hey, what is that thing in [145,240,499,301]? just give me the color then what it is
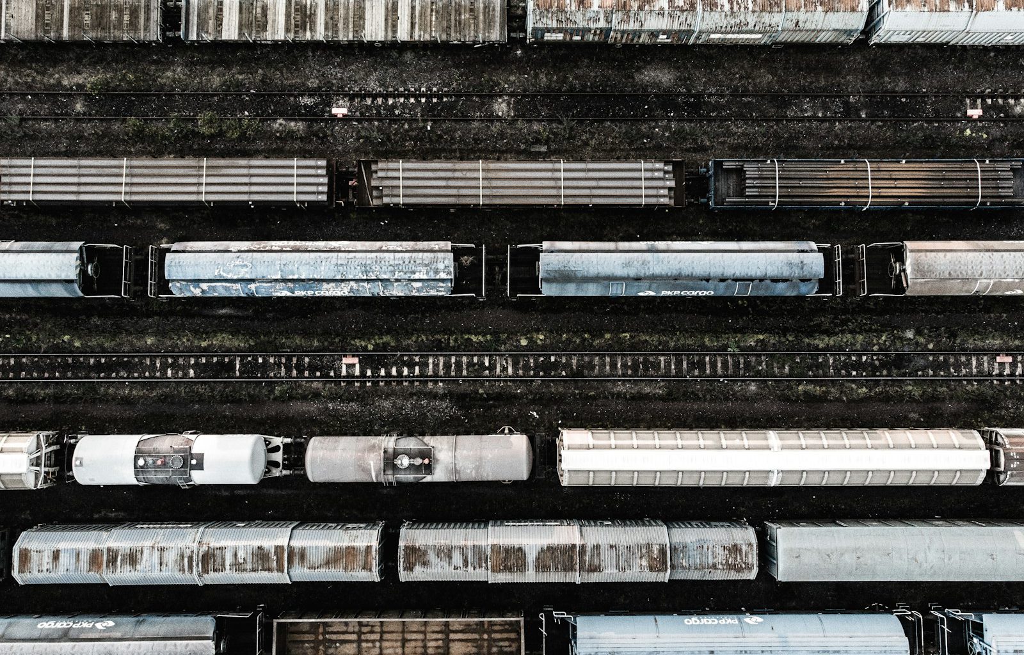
white rail car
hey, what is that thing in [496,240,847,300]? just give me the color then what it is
white rail car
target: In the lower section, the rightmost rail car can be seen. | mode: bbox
[978,425,1024,488]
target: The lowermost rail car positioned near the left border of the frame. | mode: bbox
[0,603,279,655]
